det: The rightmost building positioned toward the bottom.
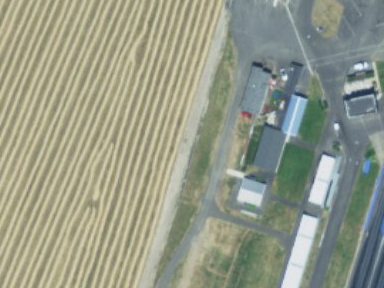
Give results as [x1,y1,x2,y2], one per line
[310,154,336,204]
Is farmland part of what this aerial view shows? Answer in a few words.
Yes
